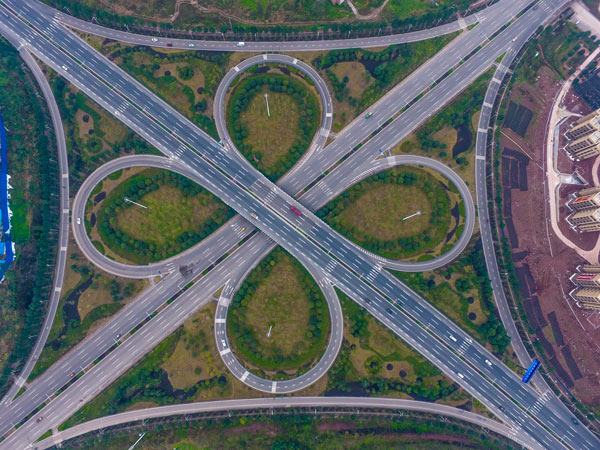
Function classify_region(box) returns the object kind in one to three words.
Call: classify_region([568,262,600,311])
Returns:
building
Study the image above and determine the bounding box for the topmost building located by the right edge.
[562,111,600,162]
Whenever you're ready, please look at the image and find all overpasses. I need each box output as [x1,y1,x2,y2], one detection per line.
[233,175,315,253]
